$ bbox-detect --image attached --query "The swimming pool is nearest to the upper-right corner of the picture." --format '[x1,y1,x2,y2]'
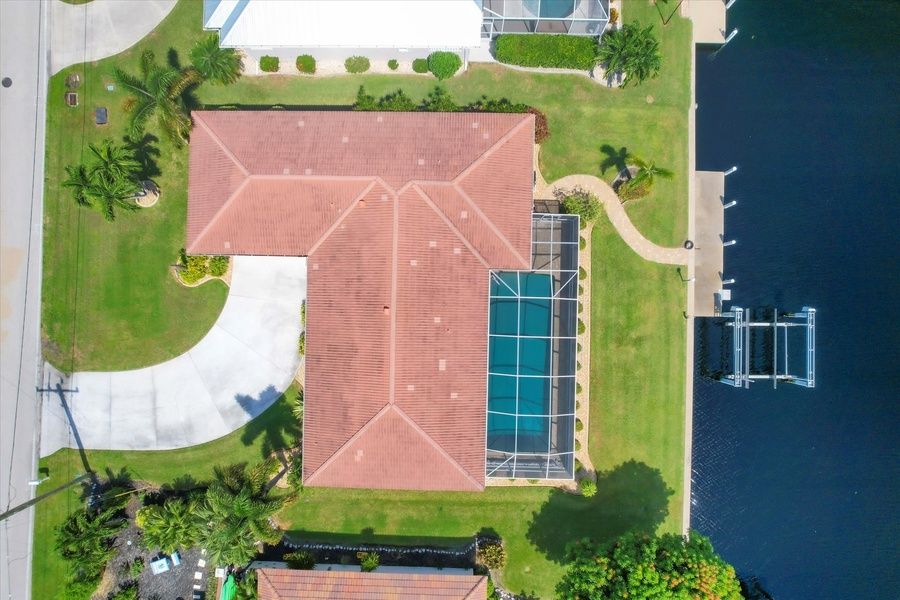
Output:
[533,0,578,21]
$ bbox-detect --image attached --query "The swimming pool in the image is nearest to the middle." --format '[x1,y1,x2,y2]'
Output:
[486,270,555,455]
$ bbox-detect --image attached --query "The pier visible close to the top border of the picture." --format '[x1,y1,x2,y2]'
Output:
[696,0,727,43]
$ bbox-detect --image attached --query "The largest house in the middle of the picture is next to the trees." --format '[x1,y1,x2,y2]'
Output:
[185,108,536,493]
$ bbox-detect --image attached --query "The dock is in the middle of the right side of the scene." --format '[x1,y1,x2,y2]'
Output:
[694,170,725,316]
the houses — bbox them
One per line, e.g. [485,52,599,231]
[256,559,489,600]
[185,108,536,493]
[202,0,484,60]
